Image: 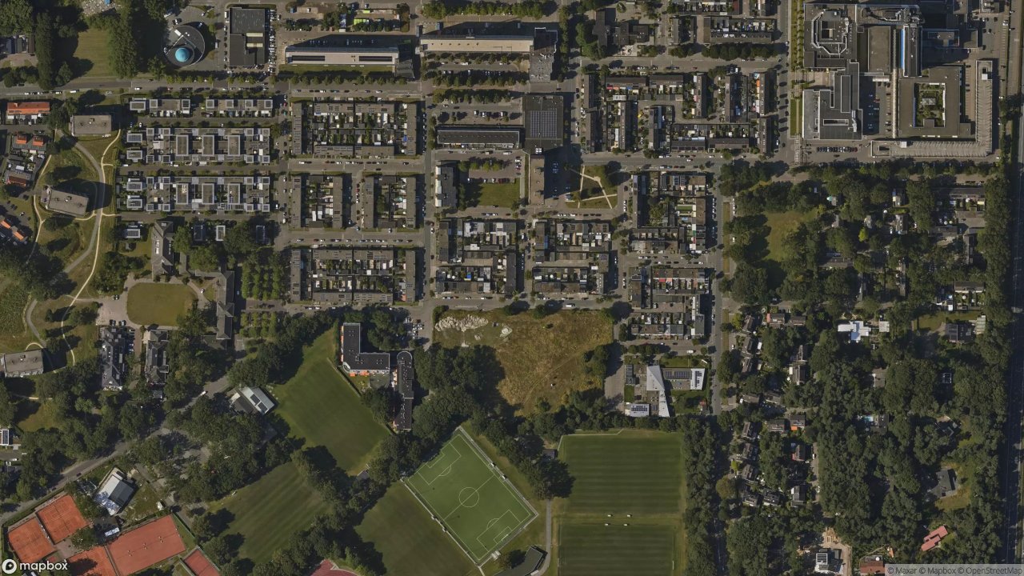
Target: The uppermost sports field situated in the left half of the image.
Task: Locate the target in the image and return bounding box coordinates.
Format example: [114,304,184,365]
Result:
[280,331,389,474]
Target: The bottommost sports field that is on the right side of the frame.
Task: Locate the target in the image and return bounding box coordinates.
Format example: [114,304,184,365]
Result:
[559,524,674,576]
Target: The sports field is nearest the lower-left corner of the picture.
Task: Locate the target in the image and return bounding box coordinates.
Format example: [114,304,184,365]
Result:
[215,464,326,560]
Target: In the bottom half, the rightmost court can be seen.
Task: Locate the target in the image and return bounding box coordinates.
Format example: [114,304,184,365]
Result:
[184,547,217,576]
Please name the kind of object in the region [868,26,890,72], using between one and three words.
building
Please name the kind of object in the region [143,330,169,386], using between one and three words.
house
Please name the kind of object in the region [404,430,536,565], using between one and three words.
soccer field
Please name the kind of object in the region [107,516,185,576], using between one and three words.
tennis court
